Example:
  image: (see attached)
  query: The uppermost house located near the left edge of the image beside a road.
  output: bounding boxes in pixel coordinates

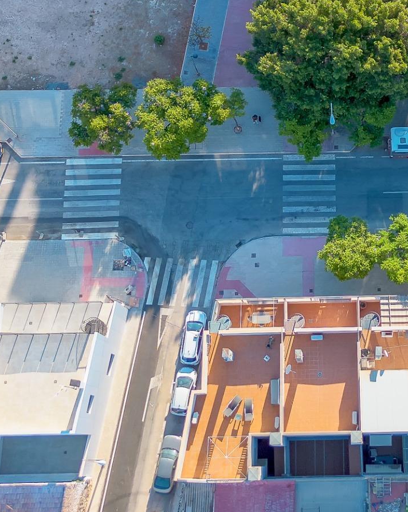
[0,301,133,481]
